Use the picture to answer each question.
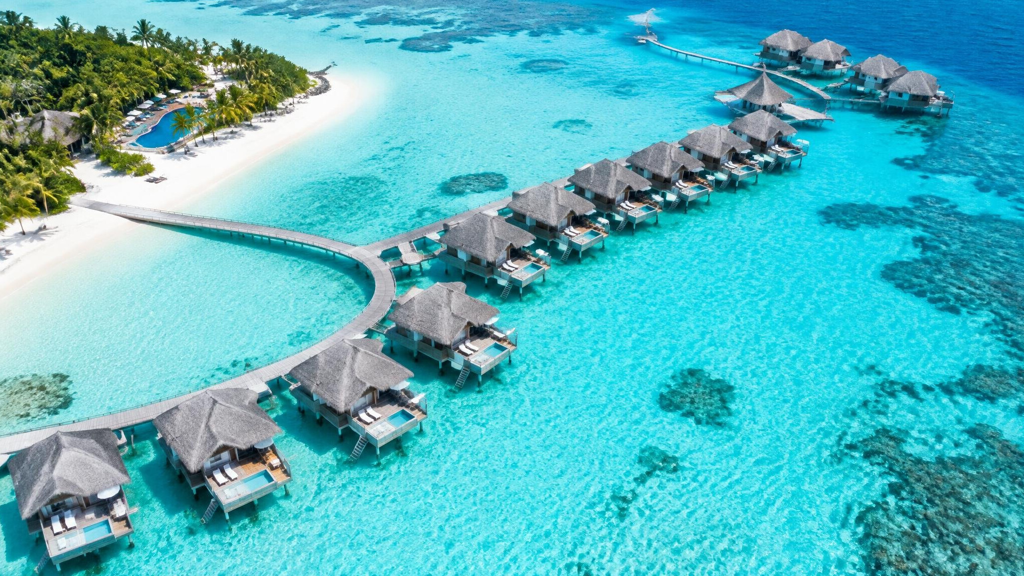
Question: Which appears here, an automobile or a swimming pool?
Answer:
swimming pool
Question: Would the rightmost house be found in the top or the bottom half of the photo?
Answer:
top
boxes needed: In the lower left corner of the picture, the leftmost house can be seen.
[5,417,142,576]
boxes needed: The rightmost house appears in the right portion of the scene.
[871,66,959,130]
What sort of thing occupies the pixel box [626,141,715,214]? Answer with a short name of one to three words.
house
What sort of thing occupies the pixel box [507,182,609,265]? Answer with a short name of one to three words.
house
